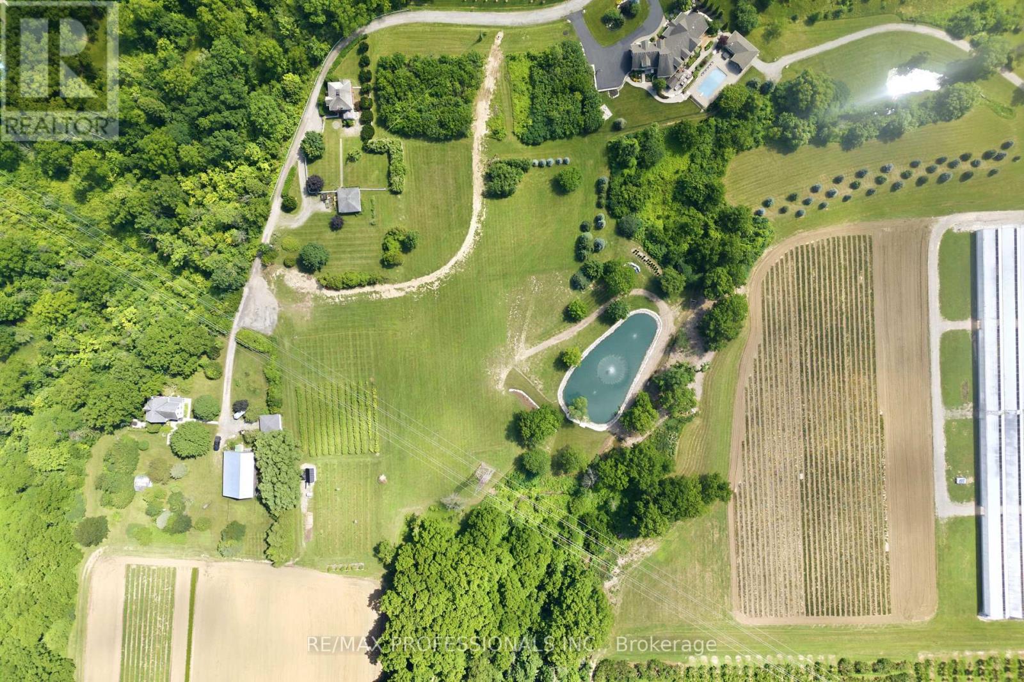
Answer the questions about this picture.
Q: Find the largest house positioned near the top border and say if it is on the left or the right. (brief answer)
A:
right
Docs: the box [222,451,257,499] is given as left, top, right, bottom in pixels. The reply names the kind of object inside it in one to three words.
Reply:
barn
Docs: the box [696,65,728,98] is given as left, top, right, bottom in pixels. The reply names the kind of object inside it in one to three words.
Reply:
swimming pool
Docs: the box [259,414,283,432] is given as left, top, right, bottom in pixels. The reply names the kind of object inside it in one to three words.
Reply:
shed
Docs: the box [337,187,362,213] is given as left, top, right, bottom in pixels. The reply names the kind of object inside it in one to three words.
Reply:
building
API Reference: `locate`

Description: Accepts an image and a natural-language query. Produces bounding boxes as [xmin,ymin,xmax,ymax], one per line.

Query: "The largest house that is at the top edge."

[630,9,709,81]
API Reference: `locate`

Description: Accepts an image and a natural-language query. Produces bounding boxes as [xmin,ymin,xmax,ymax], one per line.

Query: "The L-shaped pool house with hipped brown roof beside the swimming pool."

[724,30,760,72]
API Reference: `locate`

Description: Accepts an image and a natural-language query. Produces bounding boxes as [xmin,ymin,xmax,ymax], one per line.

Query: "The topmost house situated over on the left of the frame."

[325,81,359,120]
